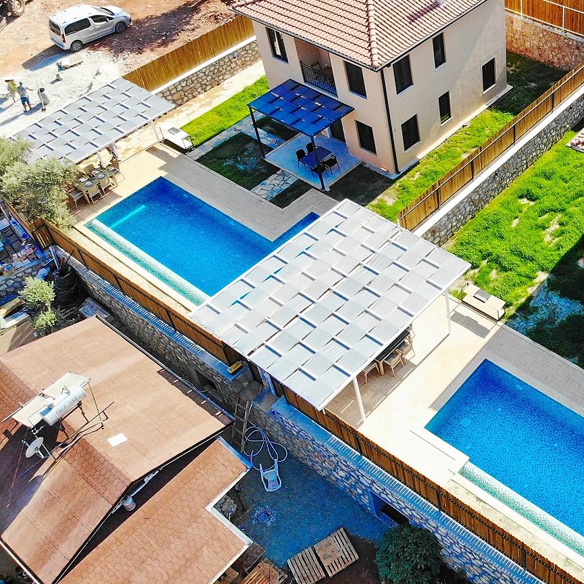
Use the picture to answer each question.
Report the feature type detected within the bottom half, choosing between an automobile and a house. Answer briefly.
house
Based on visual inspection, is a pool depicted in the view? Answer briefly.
Yes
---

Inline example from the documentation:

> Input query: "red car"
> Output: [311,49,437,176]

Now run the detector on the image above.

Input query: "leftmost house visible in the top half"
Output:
[228,0,519,183]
